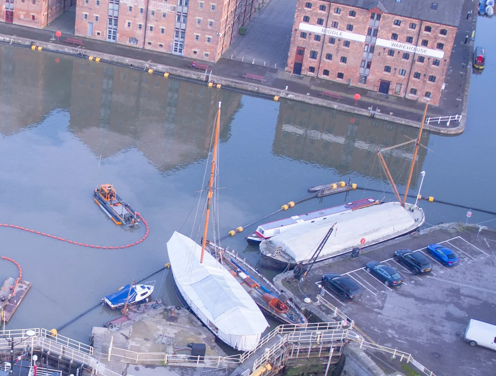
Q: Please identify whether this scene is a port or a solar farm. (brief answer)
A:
port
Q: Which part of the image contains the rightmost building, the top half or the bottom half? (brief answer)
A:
top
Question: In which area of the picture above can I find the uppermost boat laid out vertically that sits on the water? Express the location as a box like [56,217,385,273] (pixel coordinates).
[473,43,486,71]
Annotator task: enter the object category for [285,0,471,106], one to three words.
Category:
building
